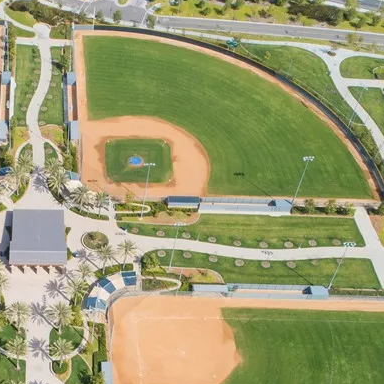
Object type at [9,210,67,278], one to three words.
building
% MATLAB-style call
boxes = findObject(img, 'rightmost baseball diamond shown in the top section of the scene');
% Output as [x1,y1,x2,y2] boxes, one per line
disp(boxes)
[73,30,384,202]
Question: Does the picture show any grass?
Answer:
Yes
